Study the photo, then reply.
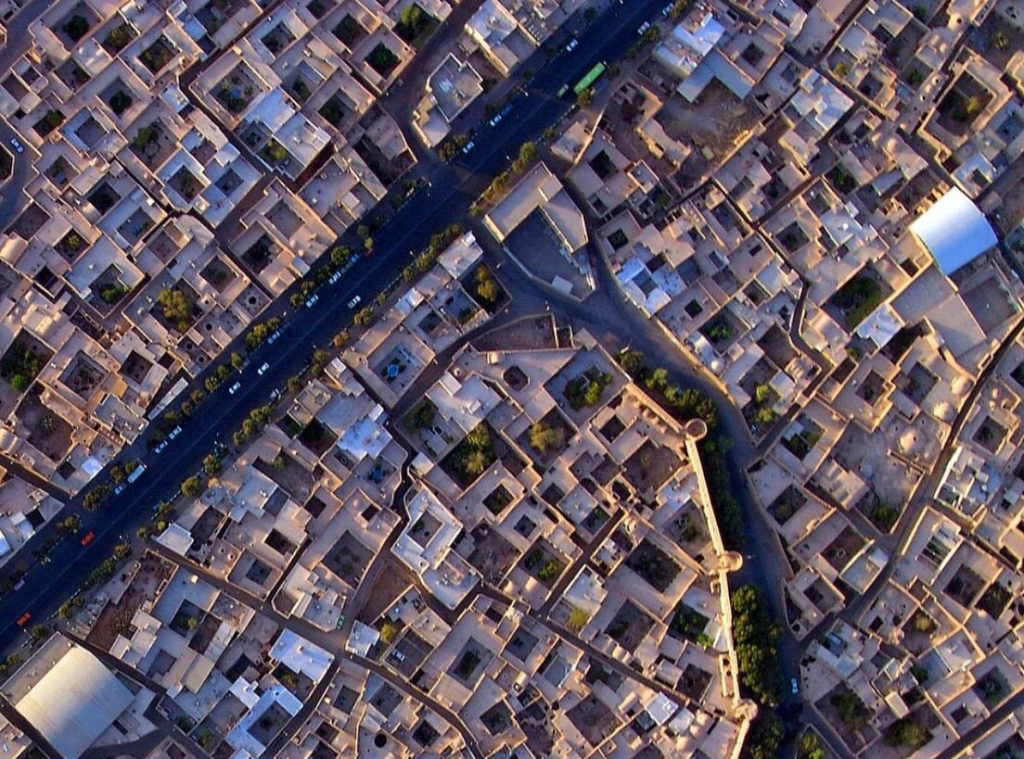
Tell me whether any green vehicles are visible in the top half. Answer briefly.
Yes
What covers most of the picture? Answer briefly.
buildings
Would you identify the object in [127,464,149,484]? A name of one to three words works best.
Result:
vehicle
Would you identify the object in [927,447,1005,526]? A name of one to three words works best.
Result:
house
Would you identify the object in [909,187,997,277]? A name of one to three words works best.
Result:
shed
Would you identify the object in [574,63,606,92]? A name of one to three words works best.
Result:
bus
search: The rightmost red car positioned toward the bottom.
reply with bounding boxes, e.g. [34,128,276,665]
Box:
[81,532,95,546]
